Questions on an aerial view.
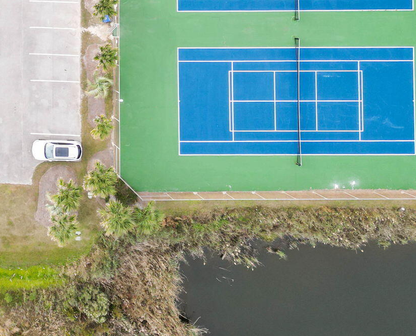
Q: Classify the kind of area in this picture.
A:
sports ground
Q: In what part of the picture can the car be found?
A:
left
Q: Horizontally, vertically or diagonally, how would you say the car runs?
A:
horizontally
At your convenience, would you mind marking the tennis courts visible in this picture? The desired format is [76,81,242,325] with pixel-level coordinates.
[117,0,416,29]
[117,29,416,191]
